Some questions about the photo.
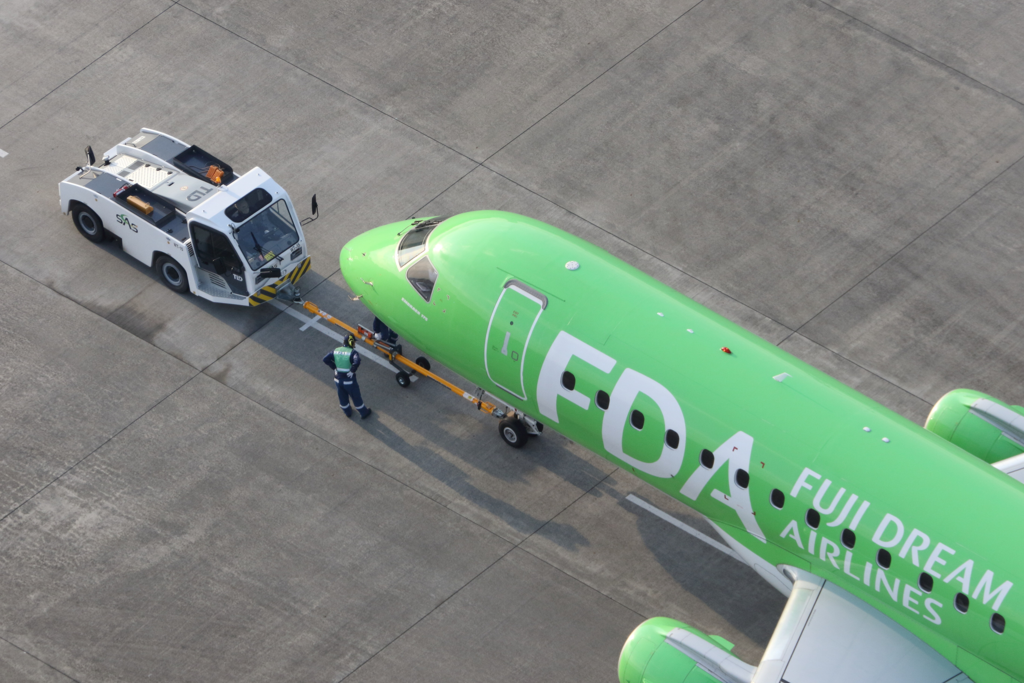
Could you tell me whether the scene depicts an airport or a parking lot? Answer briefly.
airport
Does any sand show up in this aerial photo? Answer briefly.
No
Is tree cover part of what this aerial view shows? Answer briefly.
No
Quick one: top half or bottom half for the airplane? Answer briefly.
bottom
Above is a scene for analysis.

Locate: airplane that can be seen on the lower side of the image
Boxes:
[340,209,1024,683]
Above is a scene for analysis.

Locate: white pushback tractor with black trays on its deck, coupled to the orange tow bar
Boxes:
[61,130,319,309]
